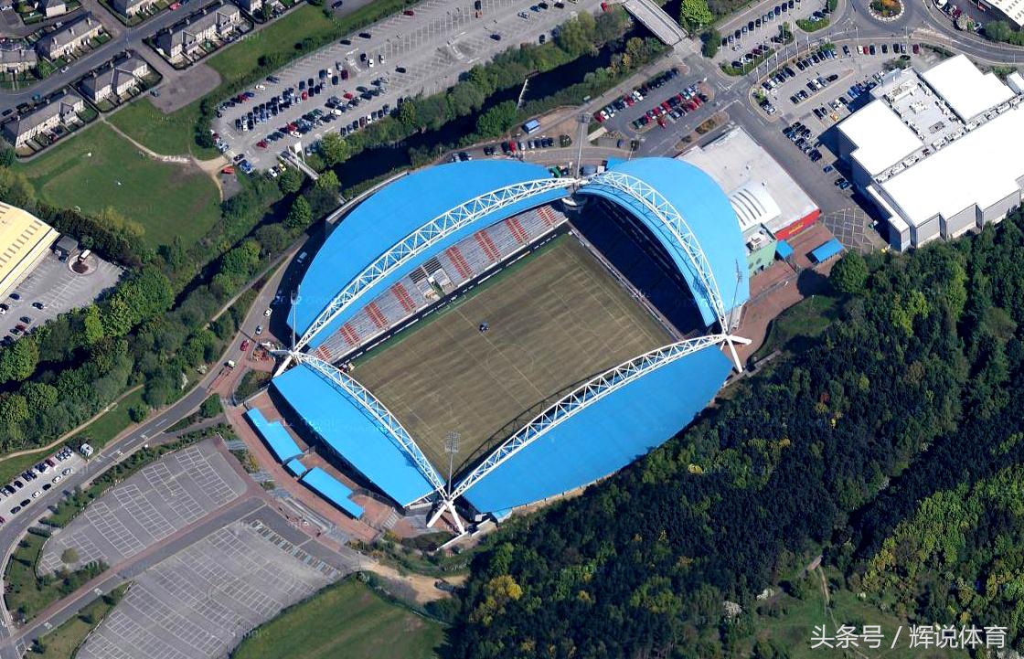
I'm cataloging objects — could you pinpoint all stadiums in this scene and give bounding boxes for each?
[271,157,749,536]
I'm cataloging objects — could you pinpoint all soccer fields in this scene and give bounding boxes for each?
[327,224,688,499]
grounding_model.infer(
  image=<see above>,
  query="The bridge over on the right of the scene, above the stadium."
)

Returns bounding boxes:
[621,0,688,46]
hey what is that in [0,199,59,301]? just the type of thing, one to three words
shed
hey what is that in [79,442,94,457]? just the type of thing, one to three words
camper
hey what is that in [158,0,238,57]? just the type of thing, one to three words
house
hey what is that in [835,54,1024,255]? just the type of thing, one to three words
warehouse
